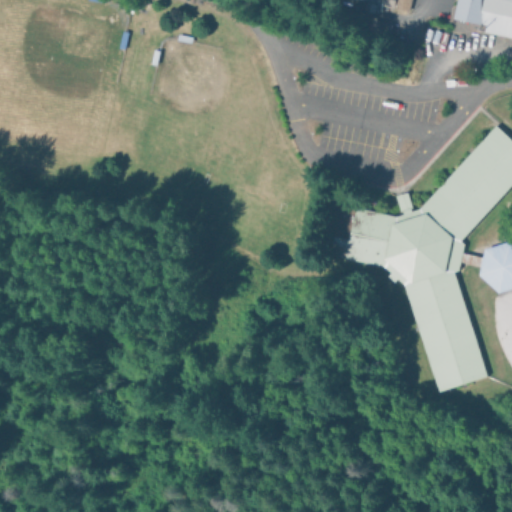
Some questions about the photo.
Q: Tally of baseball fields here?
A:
2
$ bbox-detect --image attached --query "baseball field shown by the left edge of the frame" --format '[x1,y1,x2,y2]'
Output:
[24,6,112,98]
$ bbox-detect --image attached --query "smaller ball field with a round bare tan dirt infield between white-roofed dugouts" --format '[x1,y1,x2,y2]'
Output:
[156,40,230,112]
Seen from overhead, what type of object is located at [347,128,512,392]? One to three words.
building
